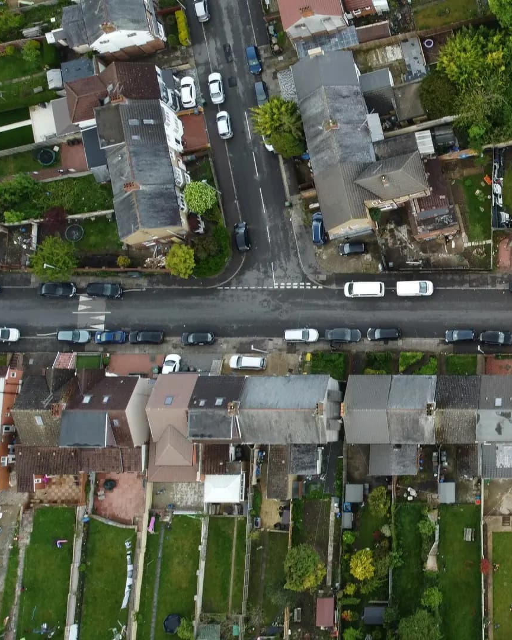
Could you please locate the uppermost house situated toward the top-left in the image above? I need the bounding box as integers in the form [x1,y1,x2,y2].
[47,0,170,61]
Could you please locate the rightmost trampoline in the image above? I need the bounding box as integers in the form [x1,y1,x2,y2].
[163,613,182,632]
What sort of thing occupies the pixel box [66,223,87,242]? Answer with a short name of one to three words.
trampoline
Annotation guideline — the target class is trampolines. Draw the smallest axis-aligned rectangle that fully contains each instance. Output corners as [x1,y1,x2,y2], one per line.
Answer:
[163,613,182,632]
[66,223,87,242]
[31,146,58,166]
